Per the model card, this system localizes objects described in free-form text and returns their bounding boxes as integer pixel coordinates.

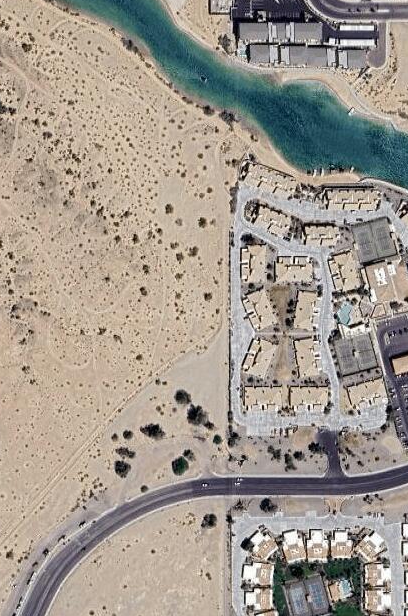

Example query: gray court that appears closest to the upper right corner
[352,217,397,264]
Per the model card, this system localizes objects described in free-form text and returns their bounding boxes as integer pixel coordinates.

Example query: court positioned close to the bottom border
[283,574,332,616]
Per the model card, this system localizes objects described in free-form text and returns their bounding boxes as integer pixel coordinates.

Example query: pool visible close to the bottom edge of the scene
[339,578,353,595]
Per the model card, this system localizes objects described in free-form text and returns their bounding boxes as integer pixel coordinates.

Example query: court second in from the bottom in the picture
[333,332,378,376]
